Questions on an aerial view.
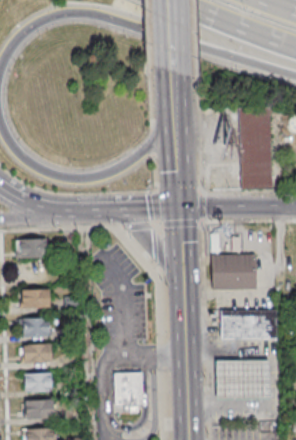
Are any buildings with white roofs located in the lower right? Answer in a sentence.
Yes, a building with a white roof shows up in the lower right.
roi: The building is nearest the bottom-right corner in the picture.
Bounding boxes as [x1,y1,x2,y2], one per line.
[216,358,270,398]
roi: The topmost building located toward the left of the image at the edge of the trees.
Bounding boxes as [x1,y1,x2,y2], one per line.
[13,238,46,259]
